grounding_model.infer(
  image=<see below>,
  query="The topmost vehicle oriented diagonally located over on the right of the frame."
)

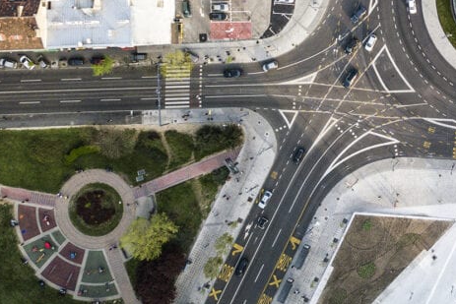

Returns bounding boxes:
[350,4,370,22]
